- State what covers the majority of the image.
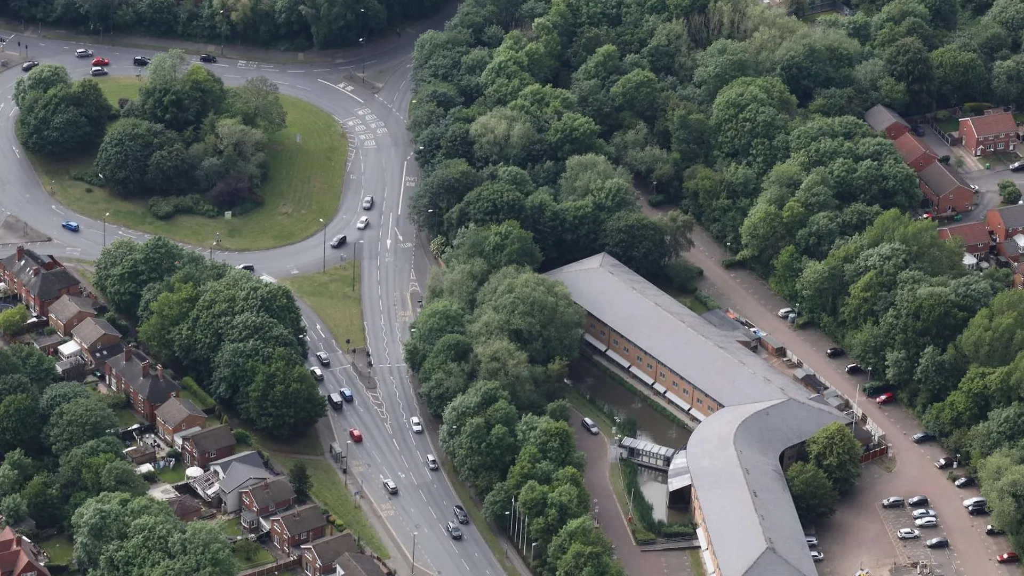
trees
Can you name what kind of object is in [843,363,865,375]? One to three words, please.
vehicle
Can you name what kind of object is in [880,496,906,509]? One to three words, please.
vehicle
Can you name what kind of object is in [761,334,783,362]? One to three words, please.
shed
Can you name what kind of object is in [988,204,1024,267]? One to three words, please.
house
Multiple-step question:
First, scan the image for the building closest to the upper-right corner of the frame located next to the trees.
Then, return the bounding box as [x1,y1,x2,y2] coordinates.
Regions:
[960,107,1018,156]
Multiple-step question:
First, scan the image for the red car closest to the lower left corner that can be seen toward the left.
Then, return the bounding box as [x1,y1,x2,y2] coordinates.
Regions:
[349,429,363,443]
